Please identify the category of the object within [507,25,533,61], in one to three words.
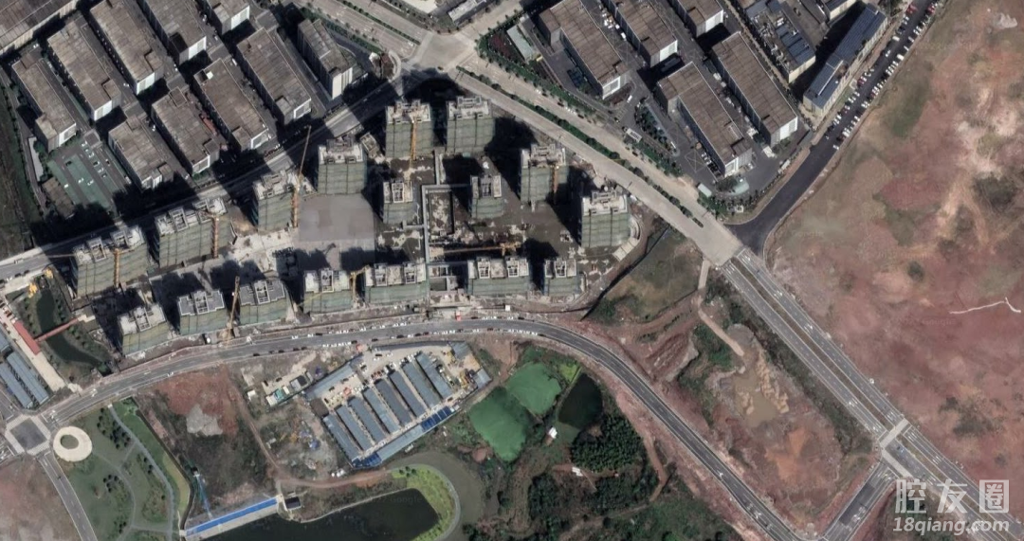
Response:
shed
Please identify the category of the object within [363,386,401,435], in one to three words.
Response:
building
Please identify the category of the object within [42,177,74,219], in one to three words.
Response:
shed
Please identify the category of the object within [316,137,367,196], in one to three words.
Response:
building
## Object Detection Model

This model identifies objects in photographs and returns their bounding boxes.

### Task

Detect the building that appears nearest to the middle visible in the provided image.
[465,255,531,298]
